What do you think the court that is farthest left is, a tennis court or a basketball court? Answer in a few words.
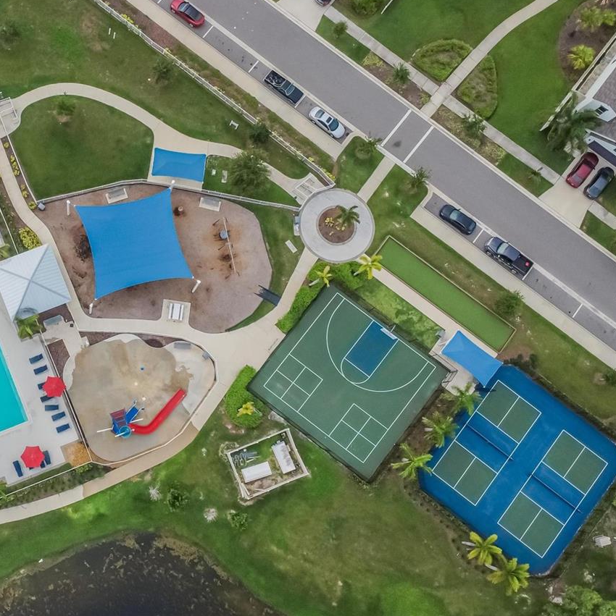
basketball court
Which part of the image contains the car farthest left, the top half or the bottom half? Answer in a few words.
top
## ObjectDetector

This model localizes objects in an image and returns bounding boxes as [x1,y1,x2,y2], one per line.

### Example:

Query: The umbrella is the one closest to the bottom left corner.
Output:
[20,444,45,470]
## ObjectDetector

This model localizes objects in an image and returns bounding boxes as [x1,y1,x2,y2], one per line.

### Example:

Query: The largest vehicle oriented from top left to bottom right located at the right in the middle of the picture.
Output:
[484,236,537,277]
